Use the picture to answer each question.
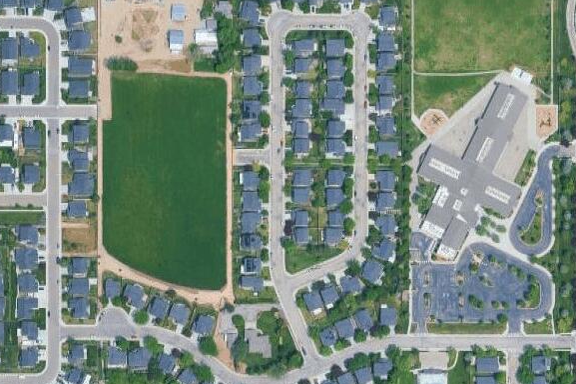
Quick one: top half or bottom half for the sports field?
top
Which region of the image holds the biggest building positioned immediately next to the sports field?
right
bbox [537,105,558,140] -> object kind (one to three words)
playground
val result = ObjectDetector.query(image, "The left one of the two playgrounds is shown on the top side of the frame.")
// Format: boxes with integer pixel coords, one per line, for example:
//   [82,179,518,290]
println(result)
[421,107,450,136]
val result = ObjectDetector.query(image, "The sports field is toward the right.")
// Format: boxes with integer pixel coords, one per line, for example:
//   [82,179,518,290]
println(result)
[412,0,554,118]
